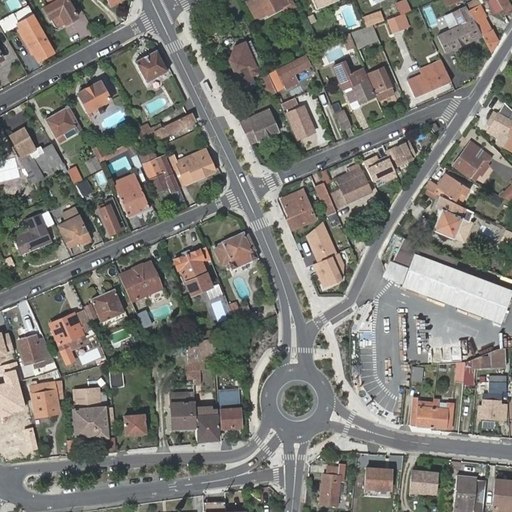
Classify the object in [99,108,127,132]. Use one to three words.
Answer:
swimming pool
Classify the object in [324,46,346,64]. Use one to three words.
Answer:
swimming pool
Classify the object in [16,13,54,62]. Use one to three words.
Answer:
house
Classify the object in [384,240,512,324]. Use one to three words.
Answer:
building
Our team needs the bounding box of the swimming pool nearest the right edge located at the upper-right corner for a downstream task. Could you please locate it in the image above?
[422,4,438,28]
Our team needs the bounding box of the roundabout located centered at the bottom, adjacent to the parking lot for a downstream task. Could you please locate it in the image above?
[262,363,335,438]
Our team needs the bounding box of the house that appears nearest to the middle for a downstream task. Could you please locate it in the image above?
[214,232,255,269]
